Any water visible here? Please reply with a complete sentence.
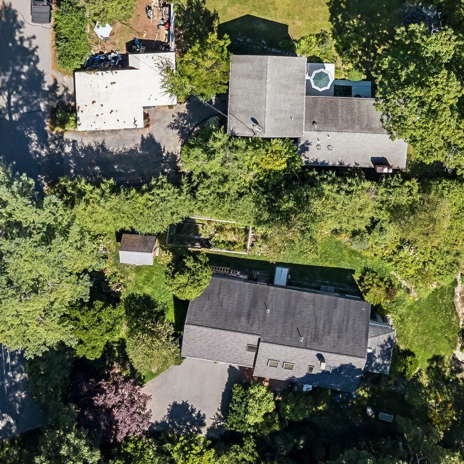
No, water can't be seen anywhere here.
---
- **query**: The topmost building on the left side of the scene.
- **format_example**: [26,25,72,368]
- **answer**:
[75,53,178,131]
